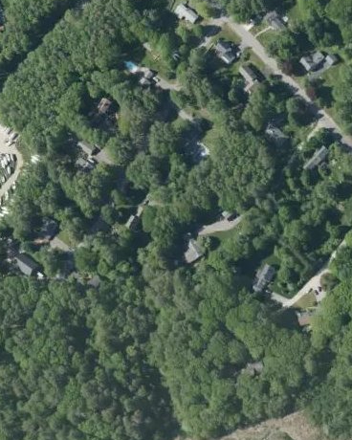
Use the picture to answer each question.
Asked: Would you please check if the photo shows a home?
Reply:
Yes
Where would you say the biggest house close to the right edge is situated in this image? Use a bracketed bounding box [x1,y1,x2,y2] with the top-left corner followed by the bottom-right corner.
[299,49,337,72]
